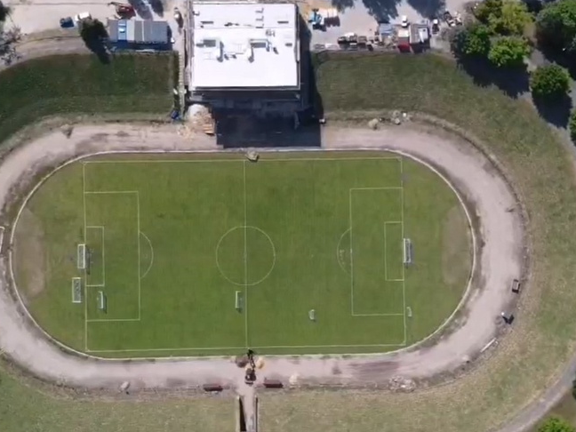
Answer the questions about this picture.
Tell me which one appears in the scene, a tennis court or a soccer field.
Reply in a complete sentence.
The image shows a soccer field.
